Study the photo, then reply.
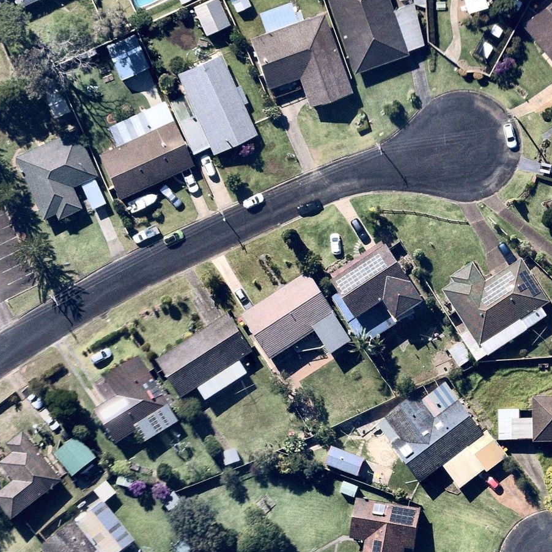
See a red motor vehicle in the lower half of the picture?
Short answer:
Yes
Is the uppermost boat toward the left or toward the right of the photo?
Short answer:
left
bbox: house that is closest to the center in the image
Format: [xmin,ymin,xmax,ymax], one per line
[242,275,350,360]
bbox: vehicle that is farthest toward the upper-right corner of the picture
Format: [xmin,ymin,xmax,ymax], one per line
[503,123,518,150]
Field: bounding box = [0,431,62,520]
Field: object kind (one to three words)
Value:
house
